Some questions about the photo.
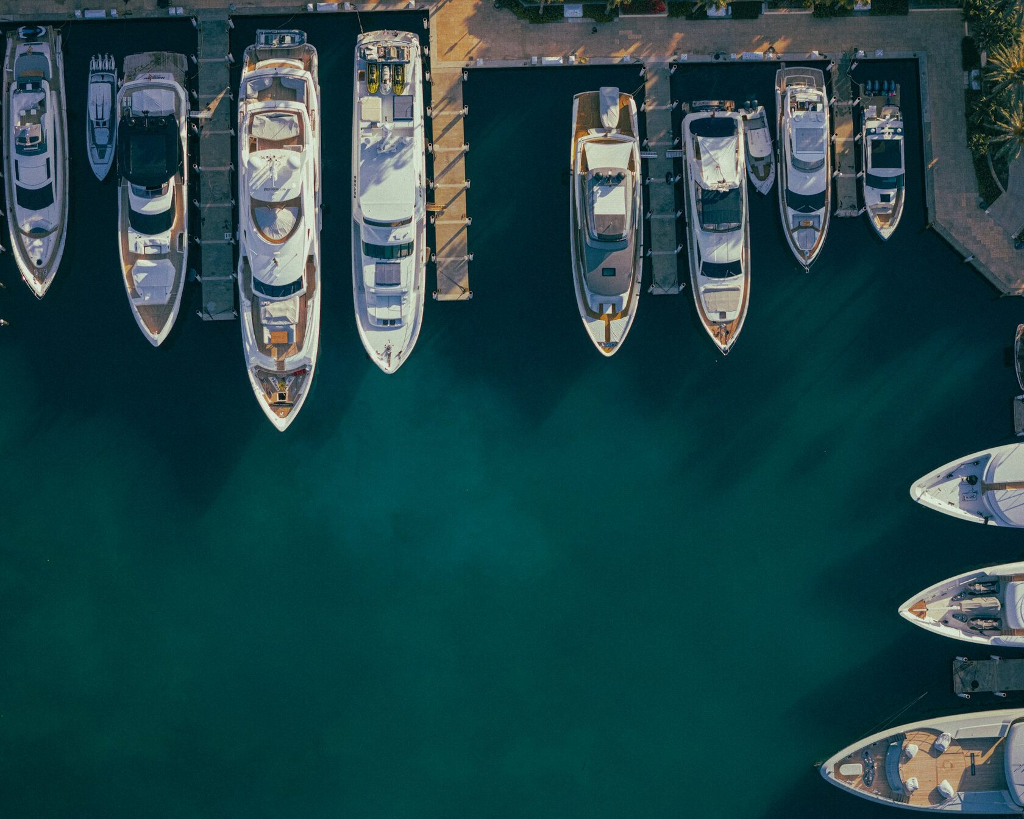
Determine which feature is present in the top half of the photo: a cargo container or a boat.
boat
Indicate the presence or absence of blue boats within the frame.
Yes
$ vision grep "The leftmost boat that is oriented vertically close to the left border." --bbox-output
[3,26,70,298]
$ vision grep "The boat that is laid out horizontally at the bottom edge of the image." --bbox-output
[815,708,1024,814]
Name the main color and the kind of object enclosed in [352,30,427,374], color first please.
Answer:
white boat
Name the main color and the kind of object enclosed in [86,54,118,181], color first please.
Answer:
blue boat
